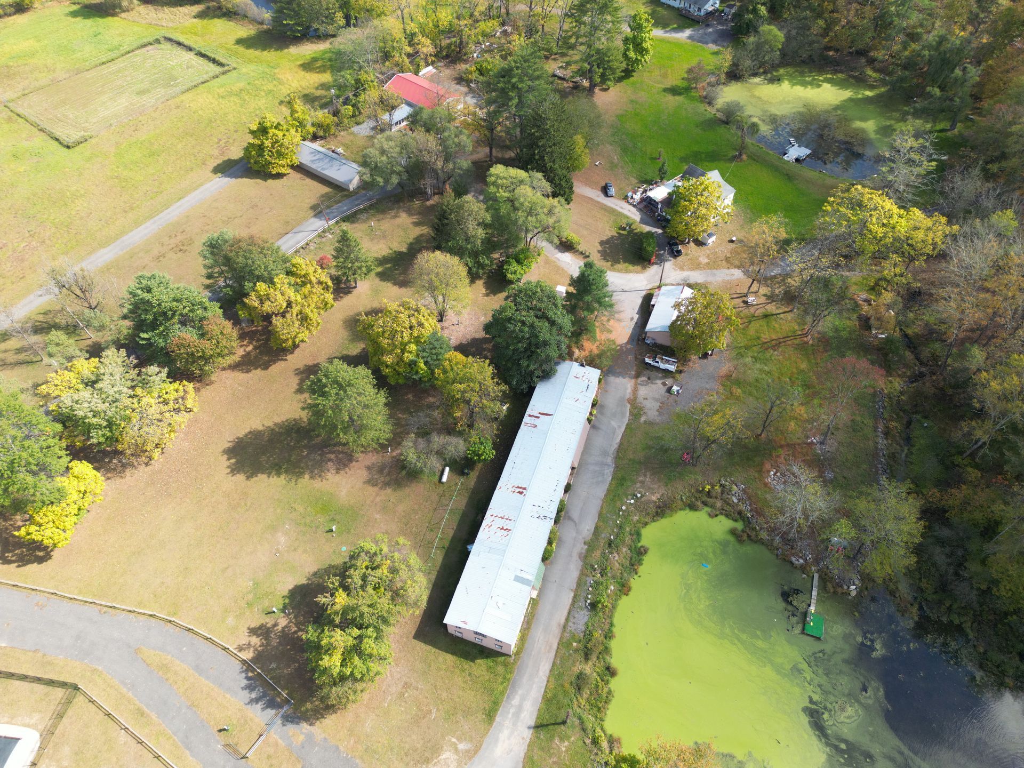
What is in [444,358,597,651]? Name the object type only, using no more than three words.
building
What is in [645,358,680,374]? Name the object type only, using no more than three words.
vehicle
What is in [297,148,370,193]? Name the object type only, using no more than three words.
shed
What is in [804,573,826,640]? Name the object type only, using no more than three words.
pier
